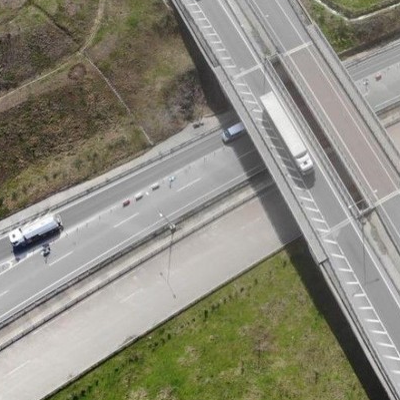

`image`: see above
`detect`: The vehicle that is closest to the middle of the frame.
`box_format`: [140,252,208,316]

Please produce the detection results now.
[221,123,248,144]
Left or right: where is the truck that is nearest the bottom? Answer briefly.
left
